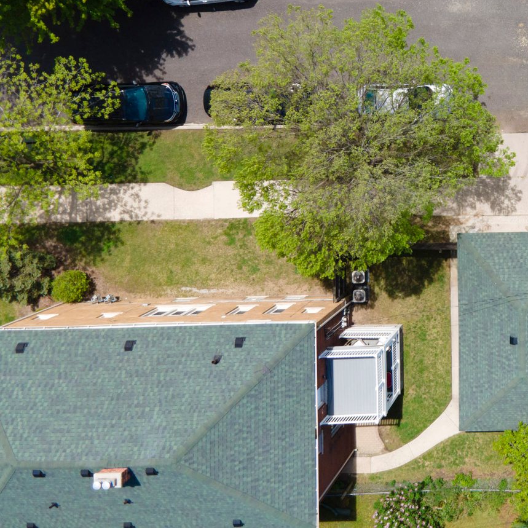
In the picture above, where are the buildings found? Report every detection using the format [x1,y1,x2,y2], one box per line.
[0,297,353,528]
[457,229,528,433]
